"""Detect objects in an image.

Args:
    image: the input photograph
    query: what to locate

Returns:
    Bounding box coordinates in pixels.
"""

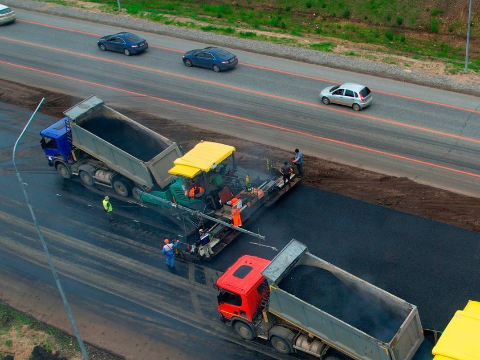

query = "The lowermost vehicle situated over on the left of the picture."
[34,92,187,201]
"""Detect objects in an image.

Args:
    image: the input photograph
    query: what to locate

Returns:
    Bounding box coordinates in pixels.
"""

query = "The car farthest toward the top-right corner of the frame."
[318,79,375,110]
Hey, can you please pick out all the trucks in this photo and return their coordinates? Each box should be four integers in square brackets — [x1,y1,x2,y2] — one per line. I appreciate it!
[211,236,432,360]
[34,92,187,201]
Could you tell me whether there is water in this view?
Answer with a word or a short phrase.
No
